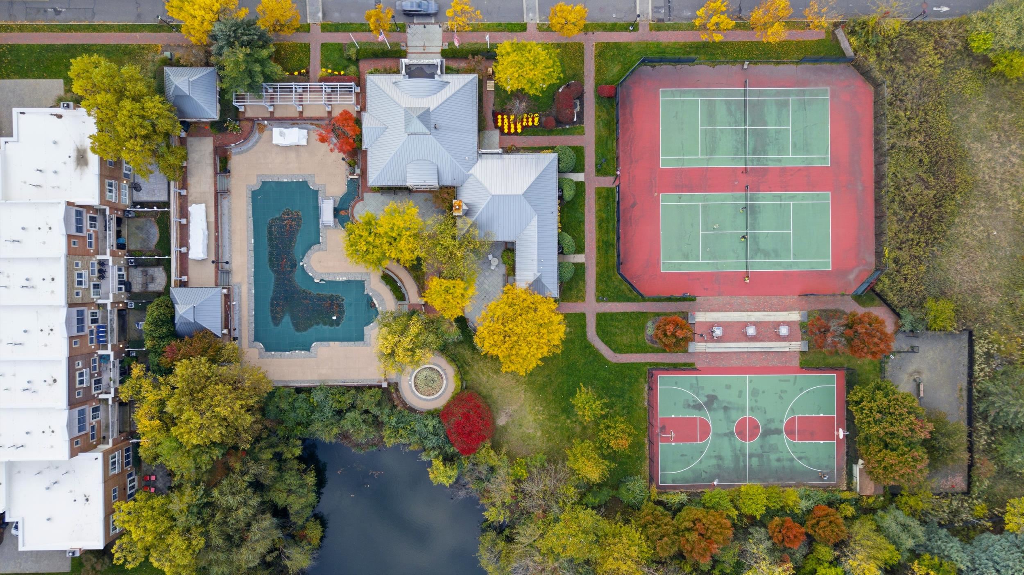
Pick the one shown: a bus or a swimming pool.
swimming pool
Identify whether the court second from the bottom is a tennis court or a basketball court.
tennis court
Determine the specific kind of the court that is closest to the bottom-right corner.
basketball court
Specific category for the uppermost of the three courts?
tennis court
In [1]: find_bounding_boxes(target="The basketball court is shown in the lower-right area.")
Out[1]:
[658,374,836,485]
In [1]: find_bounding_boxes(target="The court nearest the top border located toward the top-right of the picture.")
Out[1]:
[660,87,830,167]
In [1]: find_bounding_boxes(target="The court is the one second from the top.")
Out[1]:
[660,192,831,272]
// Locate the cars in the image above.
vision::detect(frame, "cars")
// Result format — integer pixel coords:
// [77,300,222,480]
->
[399,0,435,15]
[13,522,18,535]
[0,511,5,533]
